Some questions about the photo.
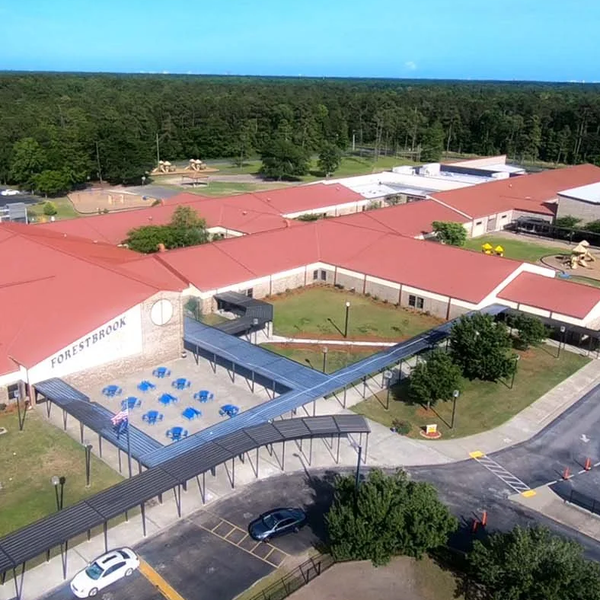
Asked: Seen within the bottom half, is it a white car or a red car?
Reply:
white car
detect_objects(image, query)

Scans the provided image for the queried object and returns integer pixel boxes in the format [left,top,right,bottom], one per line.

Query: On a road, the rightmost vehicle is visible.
[244,504,308,540]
